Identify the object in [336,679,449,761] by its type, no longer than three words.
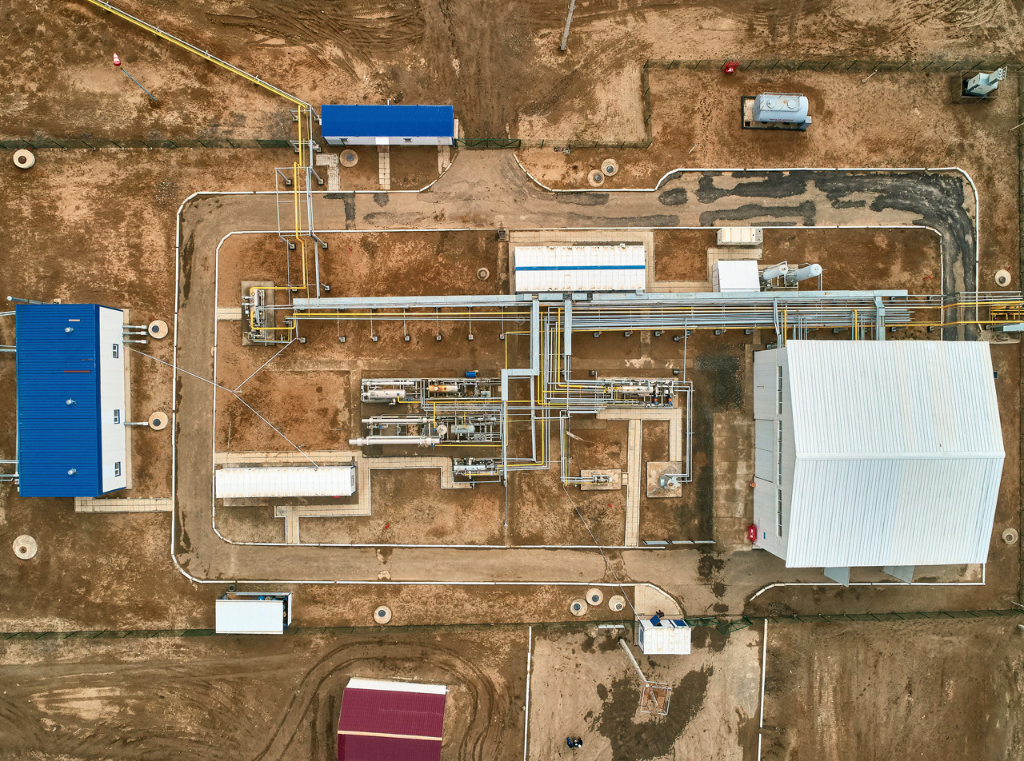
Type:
shed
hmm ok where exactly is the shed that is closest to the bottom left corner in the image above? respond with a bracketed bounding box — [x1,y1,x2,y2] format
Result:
[215,593,292,635]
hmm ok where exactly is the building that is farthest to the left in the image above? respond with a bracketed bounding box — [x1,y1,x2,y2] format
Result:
[0,303,151,497]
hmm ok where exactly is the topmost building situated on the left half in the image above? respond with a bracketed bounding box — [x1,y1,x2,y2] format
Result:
[319,103,454,145]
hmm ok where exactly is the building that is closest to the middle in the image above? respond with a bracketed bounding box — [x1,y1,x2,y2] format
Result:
[514,240,646,295]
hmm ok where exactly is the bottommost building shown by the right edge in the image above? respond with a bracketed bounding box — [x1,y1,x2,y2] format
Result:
[754,339,1008,587]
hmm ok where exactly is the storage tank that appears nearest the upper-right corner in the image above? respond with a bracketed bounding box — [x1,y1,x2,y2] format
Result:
[742,92,816,131]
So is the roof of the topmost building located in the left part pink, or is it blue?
blue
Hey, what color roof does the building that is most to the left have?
blue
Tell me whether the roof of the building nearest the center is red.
No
